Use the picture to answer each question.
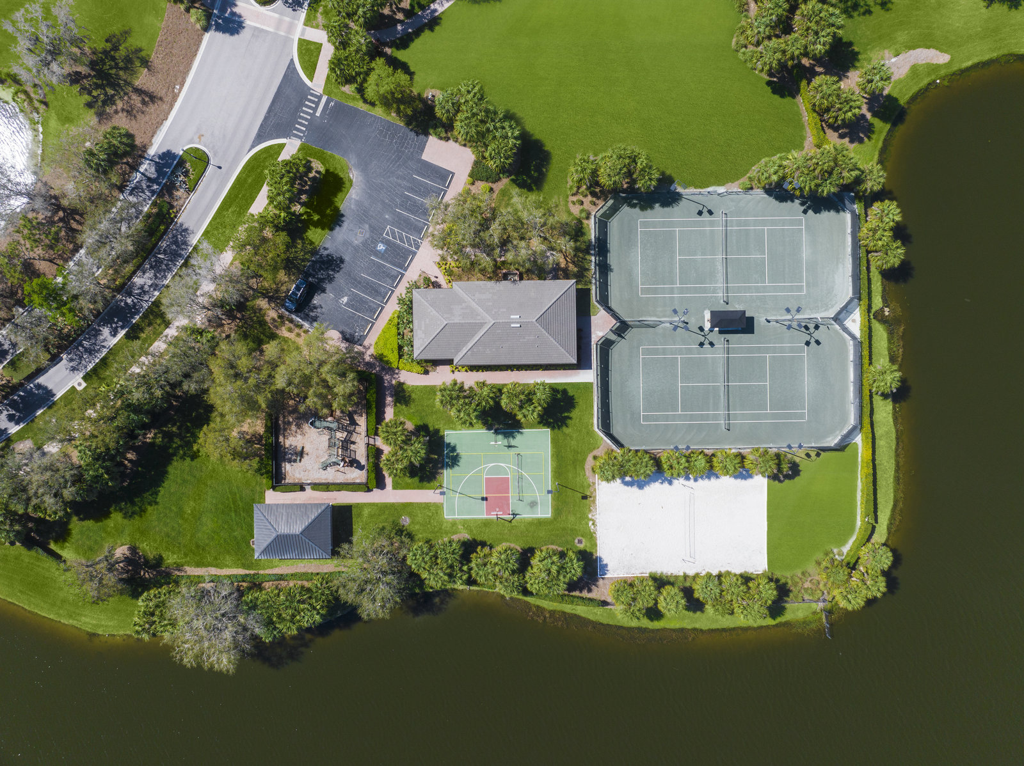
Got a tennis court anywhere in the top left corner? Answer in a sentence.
No, the scene shows no tennis court in the top left corner.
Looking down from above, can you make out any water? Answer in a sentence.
Yes, water can be seen from above here.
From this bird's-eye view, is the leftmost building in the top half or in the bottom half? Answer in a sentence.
The bottom half of the photo is where the leftmost building is.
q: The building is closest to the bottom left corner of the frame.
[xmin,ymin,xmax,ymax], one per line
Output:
[254,503,333,559]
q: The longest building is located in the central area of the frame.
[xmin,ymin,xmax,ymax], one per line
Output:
[413,281,578,365]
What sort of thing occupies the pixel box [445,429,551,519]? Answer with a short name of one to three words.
basketball court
